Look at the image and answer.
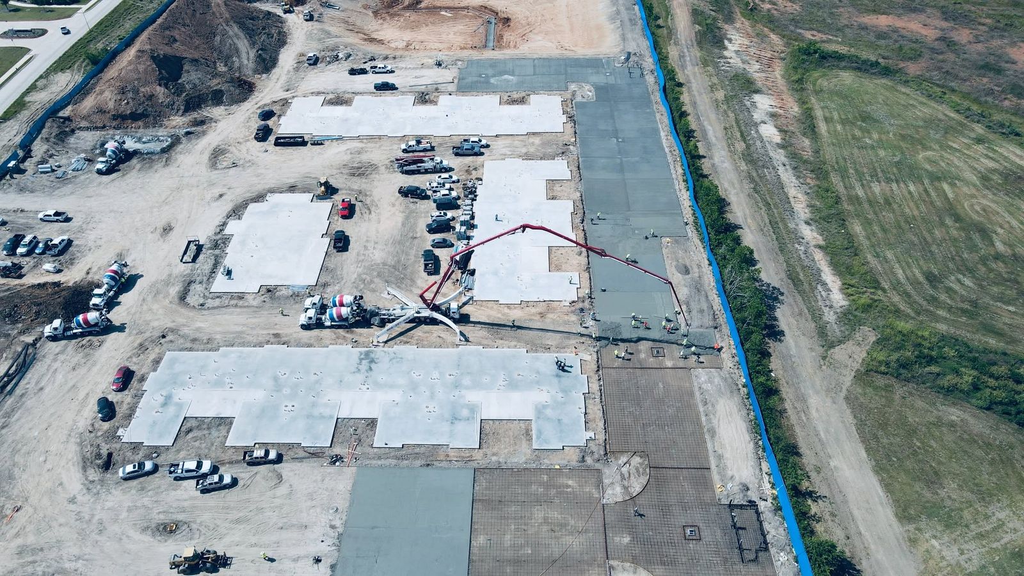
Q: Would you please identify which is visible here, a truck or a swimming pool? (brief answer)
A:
truck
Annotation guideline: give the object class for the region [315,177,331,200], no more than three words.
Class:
work vehicle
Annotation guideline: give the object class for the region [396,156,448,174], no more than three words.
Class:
vehicle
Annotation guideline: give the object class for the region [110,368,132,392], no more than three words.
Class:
car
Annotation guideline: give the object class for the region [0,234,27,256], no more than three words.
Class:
truck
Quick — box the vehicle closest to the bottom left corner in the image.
[118,461,157,482]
